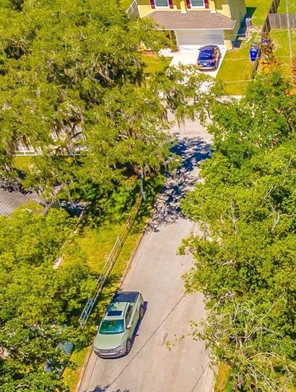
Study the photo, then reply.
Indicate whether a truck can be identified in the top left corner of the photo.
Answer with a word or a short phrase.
No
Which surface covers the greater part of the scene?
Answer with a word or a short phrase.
trees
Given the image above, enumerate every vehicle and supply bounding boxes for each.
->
[94,285,144,351]
[196,45,220,66]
